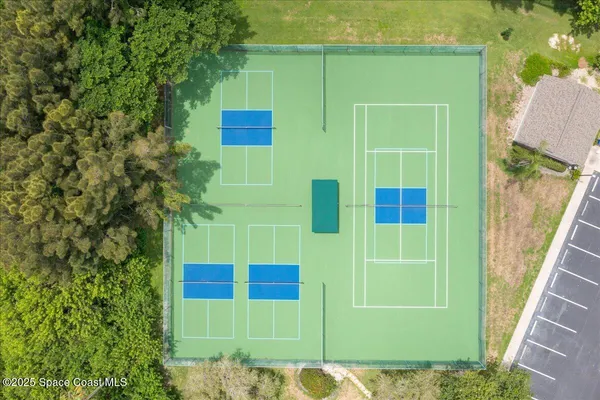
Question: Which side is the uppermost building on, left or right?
right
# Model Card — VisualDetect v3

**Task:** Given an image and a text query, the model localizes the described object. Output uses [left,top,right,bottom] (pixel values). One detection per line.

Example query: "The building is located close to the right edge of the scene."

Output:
[509,75,600,171]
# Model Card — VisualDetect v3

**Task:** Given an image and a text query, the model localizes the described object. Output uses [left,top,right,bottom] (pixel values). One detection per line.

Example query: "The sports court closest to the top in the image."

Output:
[220,71,273,185]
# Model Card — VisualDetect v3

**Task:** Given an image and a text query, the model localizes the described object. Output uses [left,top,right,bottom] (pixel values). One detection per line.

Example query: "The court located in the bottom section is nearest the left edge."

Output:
[182,224,234,339]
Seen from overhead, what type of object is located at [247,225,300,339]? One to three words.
sports court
